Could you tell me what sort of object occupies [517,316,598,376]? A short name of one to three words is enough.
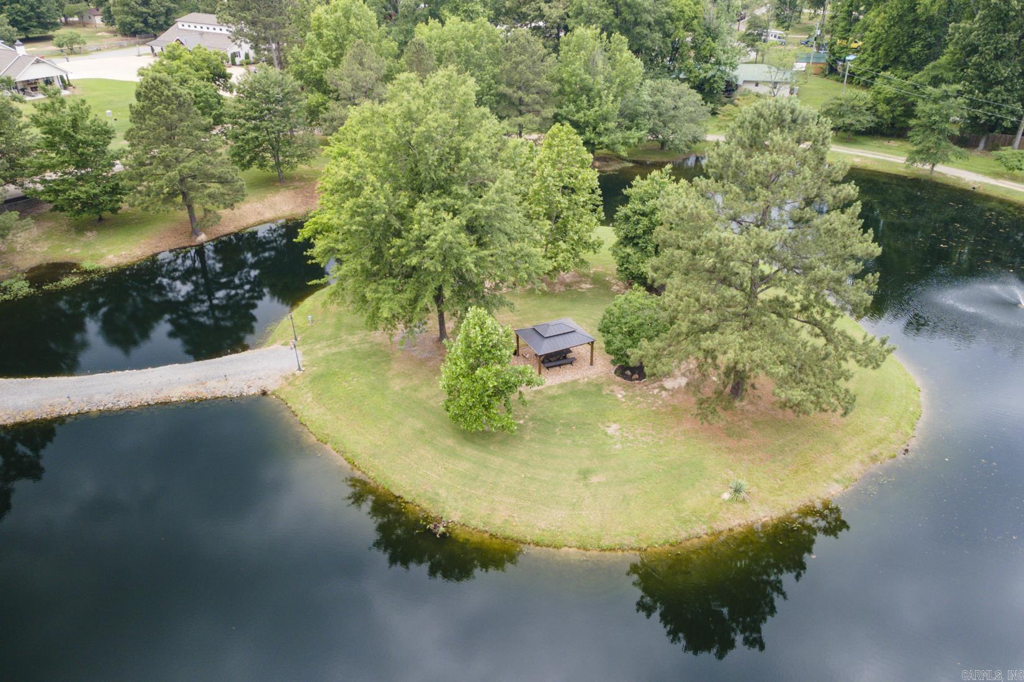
gazebo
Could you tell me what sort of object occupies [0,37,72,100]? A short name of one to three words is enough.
house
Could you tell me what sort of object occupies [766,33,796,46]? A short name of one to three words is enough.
vehicle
